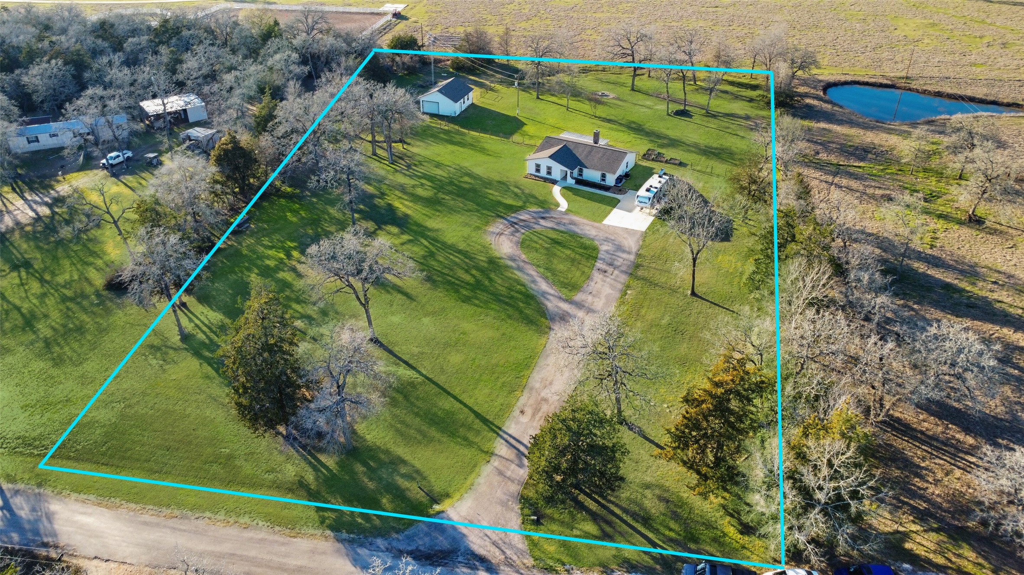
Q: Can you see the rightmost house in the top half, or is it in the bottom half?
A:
top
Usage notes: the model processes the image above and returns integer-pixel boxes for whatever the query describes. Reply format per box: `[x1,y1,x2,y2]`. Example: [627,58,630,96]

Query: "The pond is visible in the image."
[826,82,1024,119]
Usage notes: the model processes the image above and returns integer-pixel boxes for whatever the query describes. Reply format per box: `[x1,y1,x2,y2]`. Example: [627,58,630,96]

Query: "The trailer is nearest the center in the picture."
[637,173,668,214]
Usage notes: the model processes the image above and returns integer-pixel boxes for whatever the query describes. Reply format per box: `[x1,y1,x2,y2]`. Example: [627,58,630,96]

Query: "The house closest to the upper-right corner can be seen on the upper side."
[523,130,641,186]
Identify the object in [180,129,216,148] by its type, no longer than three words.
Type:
shed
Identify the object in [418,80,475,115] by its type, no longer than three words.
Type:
building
